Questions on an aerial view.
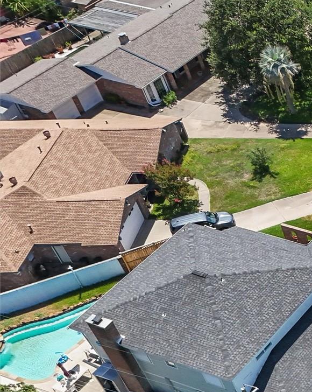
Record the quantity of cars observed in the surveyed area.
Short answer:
1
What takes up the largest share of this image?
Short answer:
buildings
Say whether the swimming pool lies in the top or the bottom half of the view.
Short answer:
bottom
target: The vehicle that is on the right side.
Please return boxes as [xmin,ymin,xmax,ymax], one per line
[169,206,231,233]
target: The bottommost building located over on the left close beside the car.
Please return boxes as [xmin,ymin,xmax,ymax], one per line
[0,118,184,292]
